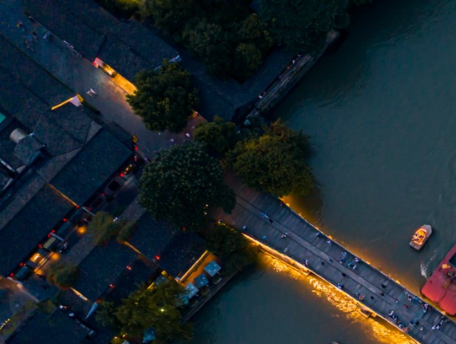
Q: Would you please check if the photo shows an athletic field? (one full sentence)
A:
No, I can't see a single athletic field in this photo.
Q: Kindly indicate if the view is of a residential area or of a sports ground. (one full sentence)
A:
This looks like a residential area.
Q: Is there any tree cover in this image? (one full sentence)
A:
Yes, tree cover can be seen from above here.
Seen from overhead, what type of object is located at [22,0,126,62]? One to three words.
house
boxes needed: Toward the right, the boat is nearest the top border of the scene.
[409,224,429,252]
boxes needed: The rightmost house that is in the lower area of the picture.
[150,223,210,279]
